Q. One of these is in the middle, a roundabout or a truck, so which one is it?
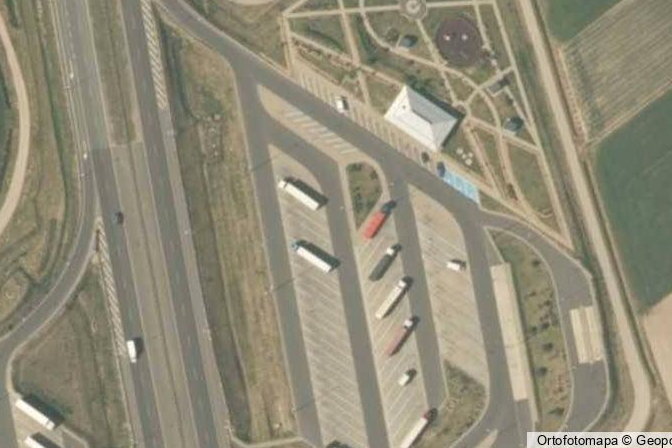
truck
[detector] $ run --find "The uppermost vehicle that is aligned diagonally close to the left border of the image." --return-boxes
[14,399,55,430]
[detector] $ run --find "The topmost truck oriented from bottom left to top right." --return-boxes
[365,200,396,239]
